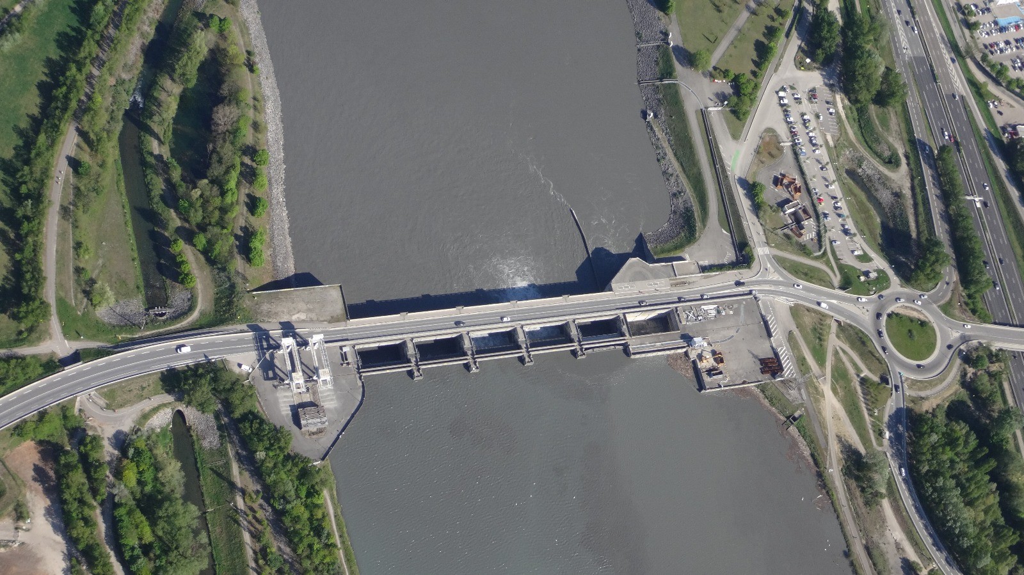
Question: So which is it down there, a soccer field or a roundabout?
roundabout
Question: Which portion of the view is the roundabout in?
right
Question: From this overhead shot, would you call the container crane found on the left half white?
Yes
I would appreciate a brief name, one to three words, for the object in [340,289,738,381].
dam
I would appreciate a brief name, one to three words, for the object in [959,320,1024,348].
overpass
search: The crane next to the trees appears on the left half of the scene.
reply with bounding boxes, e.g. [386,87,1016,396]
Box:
[268,332,334,393]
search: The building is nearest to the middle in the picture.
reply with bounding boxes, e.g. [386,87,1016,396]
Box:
[602,256,677,294]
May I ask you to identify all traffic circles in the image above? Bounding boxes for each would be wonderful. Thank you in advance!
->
[856,287,968,379]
